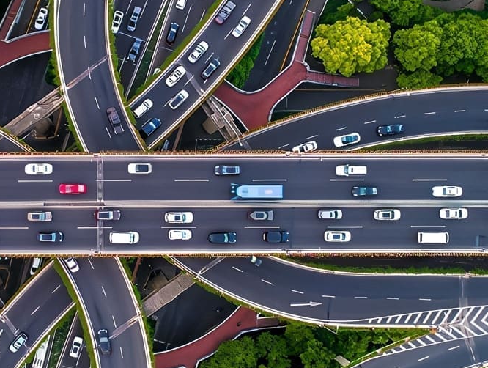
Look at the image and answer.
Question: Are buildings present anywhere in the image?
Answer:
No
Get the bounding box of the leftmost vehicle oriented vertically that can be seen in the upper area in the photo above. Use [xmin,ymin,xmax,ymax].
[34,7,47,31]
